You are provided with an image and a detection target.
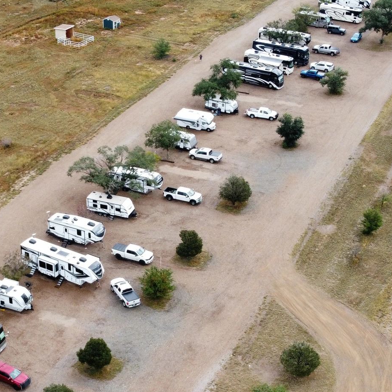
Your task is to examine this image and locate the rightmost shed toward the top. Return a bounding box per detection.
[99,12,125,30]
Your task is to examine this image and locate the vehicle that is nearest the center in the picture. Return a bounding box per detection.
[163,185,203,206]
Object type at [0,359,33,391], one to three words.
truck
